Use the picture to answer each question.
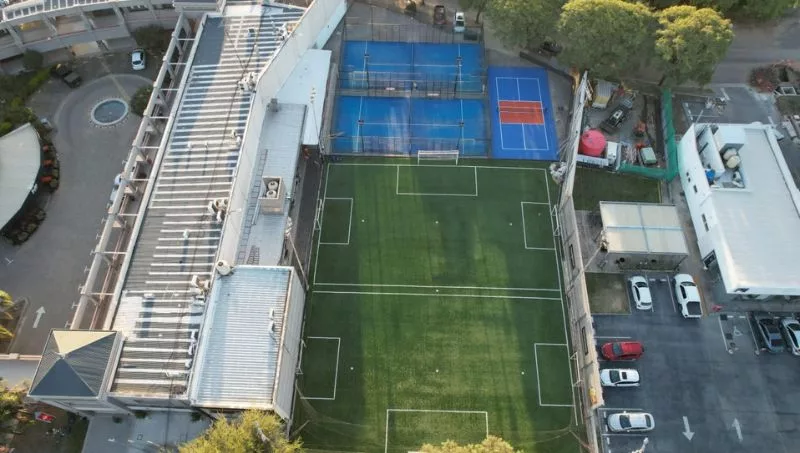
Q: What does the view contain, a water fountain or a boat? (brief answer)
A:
water fountain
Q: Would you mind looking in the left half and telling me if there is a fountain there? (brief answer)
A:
Yes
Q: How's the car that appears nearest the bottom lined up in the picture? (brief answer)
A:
horizontally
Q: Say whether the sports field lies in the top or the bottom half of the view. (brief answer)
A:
bottom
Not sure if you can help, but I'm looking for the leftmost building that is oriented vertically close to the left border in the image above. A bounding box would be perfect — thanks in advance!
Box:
[0,126,52,252]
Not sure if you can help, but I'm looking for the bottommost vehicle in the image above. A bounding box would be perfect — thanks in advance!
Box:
[605,409,656,434]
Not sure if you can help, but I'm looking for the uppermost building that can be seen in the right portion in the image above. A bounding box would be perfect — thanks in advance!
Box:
[588,82,611,119]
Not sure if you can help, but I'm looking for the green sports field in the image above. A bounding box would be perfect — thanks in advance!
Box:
[290,155,588,453]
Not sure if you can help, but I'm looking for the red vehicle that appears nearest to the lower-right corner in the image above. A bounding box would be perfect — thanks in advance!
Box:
[601,338,646,362]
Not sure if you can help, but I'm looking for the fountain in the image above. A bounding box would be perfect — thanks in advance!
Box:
[85,95,134,130]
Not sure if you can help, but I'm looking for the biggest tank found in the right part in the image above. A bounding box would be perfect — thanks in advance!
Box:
[578,134,609,160]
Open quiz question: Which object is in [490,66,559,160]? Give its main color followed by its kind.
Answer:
blue sports court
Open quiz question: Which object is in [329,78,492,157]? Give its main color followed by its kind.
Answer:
blue sports court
